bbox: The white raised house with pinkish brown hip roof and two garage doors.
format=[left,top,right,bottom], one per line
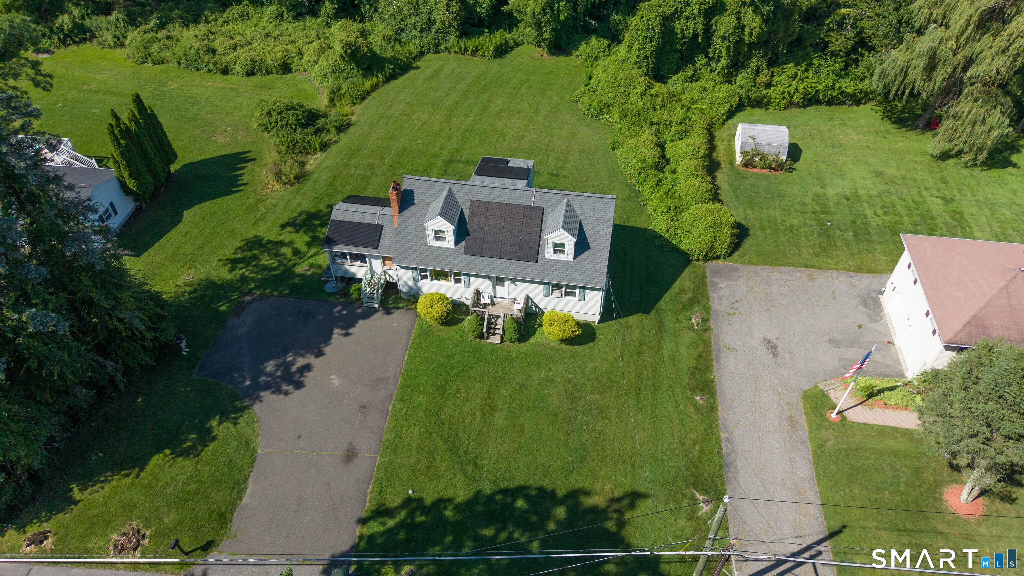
[875,232,1024,382]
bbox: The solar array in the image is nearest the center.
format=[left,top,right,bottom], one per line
[464,202,543,262]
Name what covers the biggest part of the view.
grass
